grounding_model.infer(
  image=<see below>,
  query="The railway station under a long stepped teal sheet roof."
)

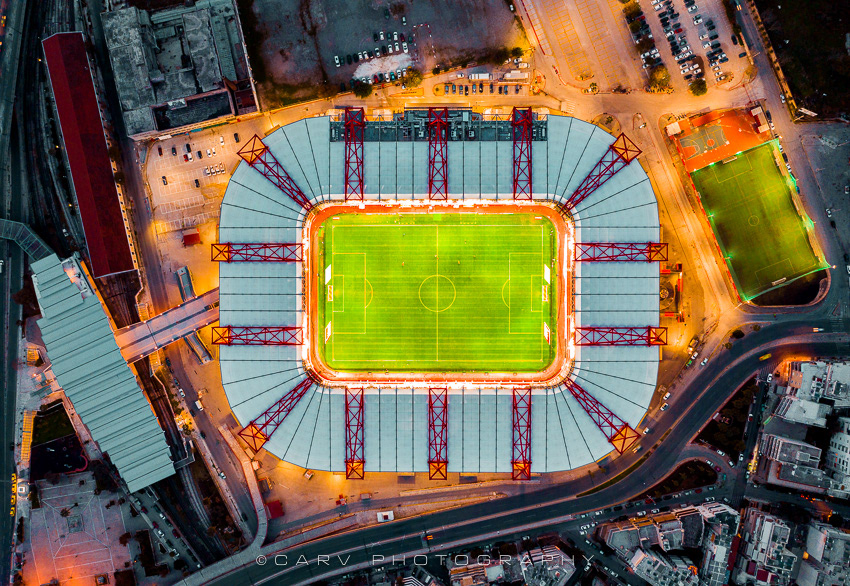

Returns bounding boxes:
[30,249,177,493]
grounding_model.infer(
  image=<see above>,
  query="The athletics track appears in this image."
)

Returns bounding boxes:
[309,205,566,381]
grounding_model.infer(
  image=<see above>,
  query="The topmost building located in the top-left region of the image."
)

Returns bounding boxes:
[100,0,267,142]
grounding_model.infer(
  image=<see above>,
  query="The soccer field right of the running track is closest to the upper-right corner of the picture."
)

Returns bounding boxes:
[690,140,829,300]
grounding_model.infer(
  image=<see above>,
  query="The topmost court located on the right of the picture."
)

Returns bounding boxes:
[667,103,772,172]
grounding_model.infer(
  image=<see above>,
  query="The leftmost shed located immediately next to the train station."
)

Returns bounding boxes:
[42,32,149,279]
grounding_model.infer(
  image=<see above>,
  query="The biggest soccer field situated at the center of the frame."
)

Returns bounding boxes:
[319,213,556,373]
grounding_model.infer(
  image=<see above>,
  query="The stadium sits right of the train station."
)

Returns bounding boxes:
[210,106,667,480]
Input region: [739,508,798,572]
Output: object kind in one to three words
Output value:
building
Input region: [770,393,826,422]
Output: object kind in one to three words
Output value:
building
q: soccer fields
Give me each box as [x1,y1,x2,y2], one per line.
[690,140,829,300]
[319,213,556,373]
